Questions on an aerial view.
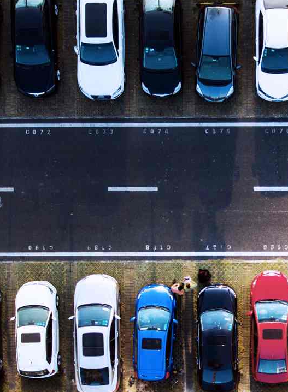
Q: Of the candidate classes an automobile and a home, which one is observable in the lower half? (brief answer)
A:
automobile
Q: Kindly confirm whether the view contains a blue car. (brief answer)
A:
Yes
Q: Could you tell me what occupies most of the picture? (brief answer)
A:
paved ground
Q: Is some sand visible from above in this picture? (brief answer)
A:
No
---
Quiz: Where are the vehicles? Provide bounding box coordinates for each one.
[133,0,182,97]
[4,0,59,98]
[127,284,176,381]
[6,282,60,378]
[246,270,288,383]
[68,274,121,392]
[192,285,241,391]
[252,0,288,101]
[192,4,240,103]
[69,0,124,101]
